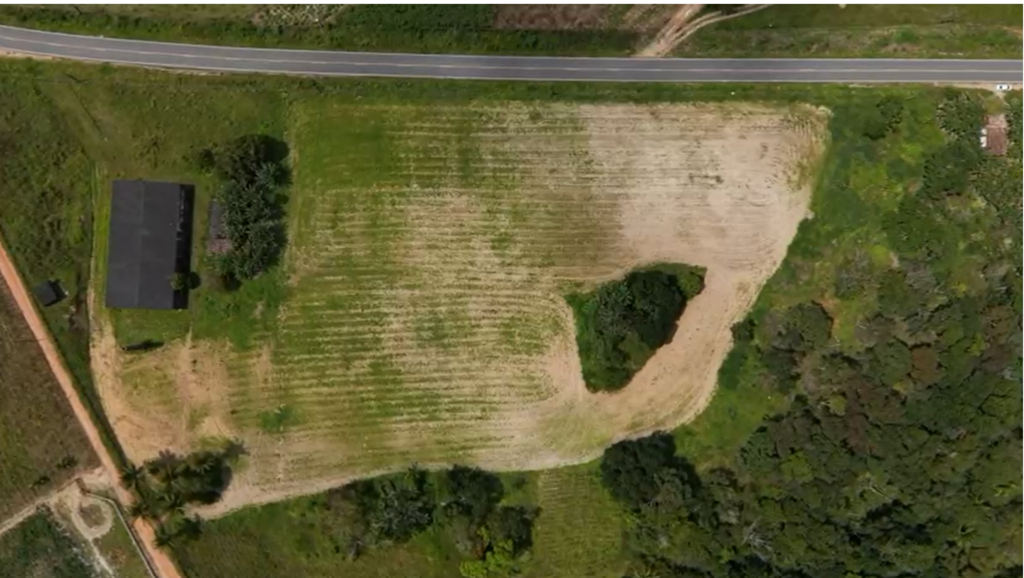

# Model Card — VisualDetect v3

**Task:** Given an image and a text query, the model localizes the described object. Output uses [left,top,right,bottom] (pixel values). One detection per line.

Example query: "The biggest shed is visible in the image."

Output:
[106,180,196,310]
